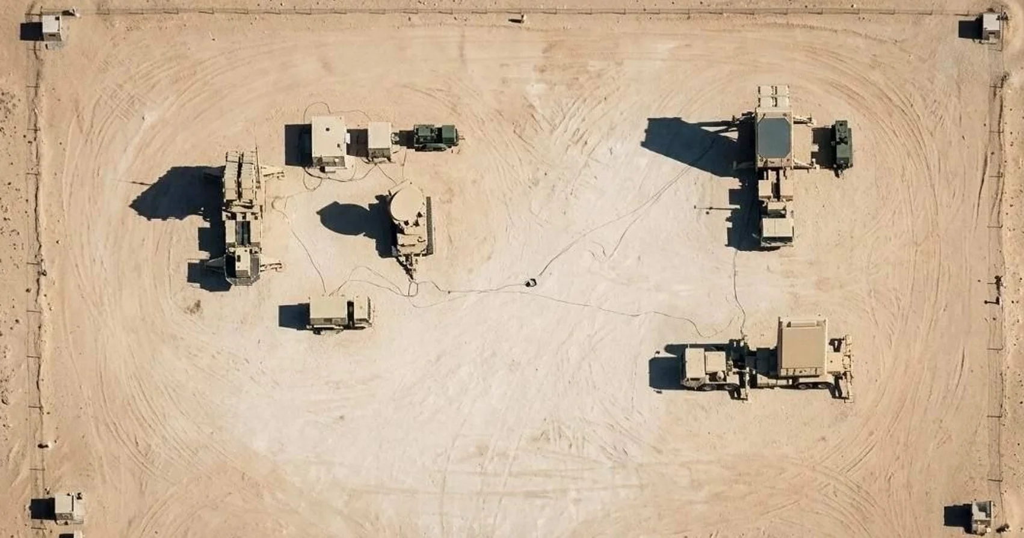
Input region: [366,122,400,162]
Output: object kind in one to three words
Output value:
trailer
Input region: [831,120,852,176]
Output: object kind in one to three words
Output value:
trailer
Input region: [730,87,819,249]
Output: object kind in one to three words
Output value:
truck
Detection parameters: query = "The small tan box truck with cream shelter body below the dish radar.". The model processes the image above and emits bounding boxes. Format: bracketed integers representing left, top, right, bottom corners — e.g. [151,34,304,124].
[307,295,375,335]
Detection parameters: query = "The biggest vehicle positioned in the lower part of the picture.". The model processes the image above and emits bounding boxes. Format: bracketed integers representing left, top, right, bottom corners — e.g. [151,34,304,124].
[679,315,852,405]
